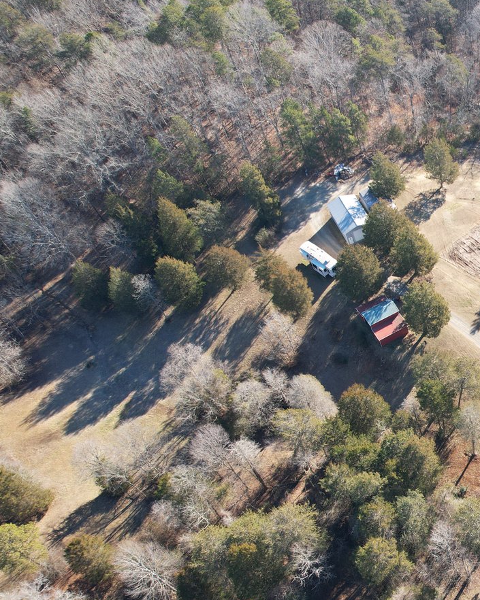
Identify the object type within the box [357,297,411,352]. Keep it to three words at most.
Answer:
barn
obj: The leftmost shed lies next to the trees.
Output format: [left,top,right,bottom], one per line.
[326,194,368,245]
